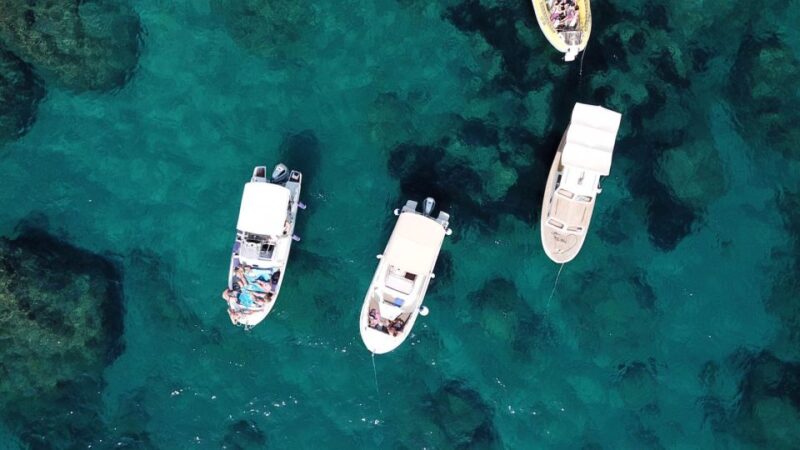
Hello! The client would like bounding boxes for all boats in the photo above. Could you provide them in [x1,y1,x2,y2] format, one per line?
[362,198,448,358]
[533,0,592,61]
[543,103,620,263]
[229,162,302,334]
